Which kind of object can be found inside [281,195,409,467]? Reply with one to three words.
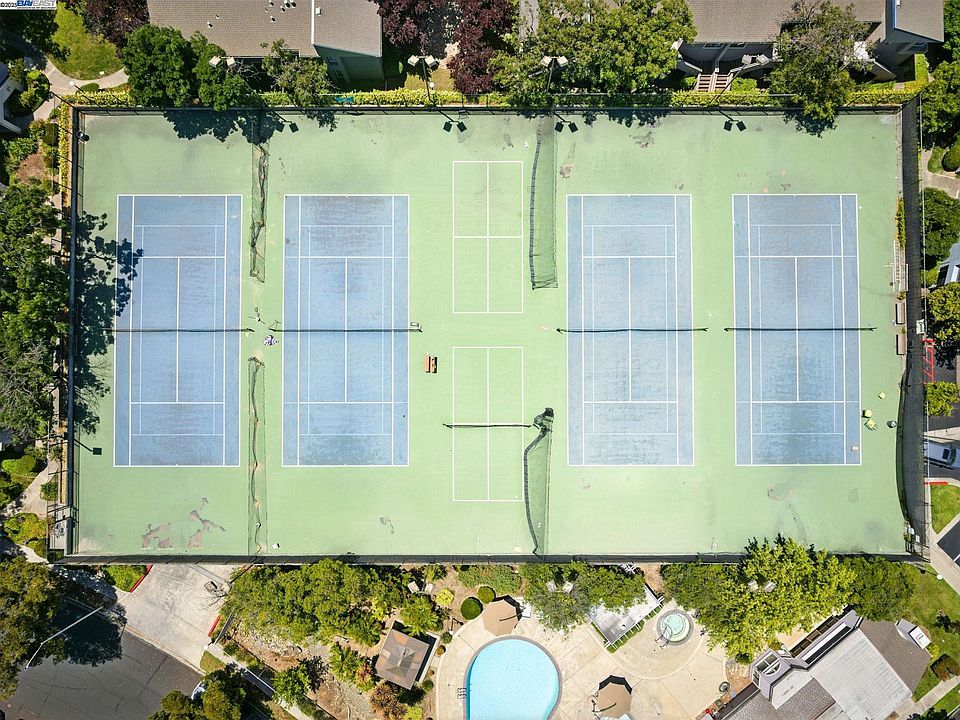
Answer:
tennis court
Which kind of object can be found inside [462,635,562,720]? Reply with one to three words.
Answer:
swimming pool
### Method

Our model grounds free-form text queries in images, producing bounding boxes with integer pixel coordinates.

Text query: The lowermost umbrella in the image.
[584,682,630,718]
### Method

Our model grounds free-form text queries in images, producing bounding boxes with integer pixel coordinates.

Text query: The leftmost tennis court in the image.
[113,195,242,467]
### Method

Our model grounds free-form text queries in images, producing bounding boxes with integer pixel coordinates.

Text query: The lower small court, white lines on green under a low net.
[452,346,523,502]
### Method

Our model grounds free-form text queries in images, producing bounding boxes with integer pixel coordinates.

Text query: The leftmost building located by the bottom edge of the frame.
[374,620,442,689]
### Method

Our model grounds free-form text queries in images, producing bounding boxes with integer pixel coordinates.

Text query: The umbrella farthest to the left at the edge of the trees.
[482,597,530,635]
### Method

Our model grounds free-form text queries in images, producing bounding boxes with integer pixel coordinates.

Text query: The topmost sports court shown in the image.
[453,160,523,314]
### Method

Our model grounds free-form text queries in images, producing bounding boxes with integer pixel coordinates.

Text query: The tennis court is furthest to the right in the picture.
[733,195,862,466]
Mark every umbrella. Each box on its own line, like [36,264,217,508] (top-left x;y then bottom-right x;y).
[584,682,630,718]
[482,597,530,635]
